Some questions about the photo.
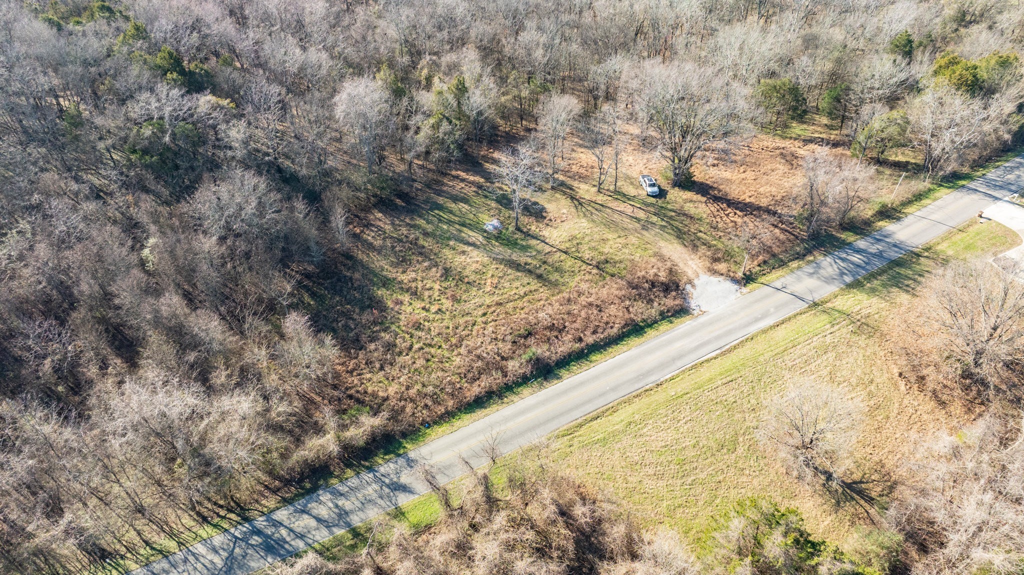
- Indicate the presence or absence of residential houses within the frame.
No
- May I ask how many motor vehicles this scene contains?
one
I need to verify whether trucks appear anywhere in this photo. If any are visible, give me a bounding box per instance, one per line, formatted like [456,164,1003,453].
[638,174,660,197]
